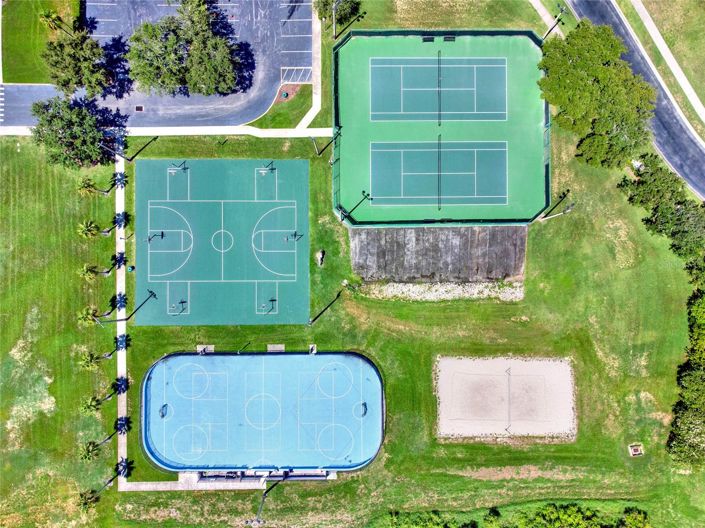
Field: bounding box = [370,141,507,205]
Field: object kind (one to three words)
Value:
tennis court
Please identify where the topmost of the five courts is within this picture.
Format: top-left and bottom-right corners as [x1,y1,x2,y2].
[370,57,507,120]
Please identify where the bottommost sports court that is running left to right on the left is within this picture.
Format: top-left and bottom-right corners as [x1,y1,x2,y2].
[138,356,383,474]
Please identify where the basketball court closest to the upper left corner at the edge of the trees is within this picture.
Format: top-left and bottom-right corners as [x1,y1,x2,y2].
[135,160,310,326]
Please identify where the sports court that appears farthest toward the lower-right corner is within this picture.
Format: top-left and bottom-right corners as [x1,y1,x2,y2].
[437,357,576,438]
